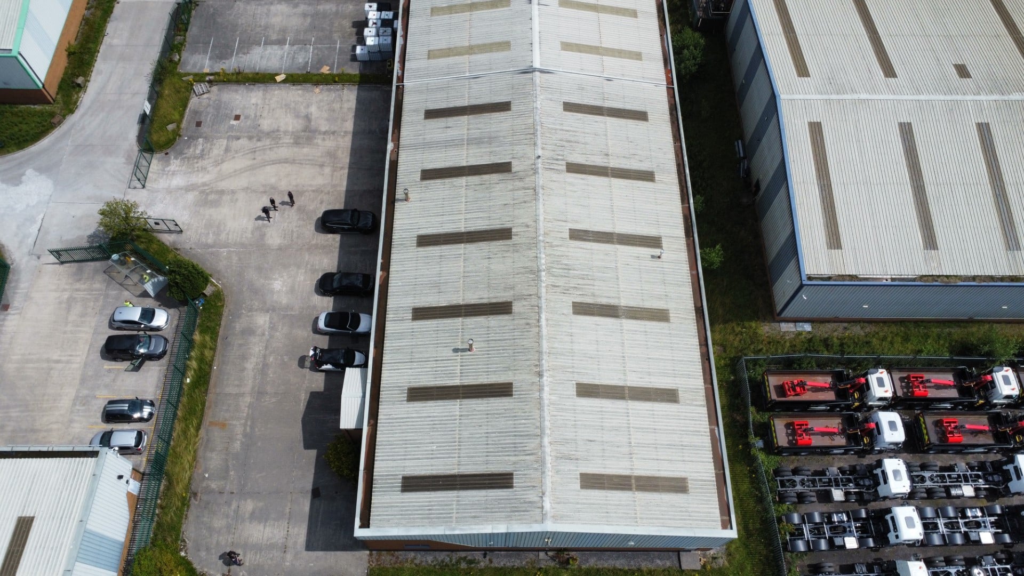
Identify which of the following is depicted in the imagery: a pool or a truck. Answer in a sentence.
Looking from above, you can make out a truck.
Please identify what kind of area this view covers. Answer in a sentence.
The area seen from above is an industrial area.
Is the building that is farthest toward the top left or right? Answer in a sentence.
The building that is farthest toward the top appears in the left half of the scene.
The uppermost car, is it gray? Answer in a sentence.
No, from above the uppermost car looks black.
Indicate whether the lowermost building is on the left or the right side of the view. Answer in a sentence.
You can find the lowermost building on the left side of the picture.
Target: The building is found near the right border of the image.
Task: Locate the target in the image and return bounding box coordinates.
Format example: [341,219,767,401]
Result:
[727,0,1024,319]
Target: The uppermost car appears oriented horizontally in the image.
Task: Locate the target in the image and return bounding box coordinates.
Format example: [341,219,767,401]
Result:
[320,207,379,235]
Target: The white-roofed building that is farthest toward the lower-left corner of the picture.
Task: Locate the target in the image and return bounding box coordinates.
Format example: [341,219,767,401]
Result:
[0,442,142,576]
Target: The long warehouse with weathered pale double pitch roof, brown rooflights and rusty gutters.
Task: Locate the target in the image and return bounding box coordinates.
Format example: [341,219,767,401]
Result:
[340,0,737,552]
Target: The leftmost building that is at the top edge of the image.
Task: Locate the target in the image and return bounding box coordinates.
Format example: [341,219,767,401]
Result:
[0,0,87,104]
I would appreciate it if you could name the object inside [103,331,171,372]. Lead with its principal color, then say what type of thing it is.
black car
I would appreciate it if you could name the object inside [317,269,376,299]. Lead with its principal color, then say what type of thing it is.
black car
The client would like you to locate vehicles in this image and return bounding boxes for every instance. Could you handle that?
[918,405,1024,451]
[314,308,373,338]
[774,454,915,504]
[320,207,379,235]
[110,304,171,334]
[308,344,370,374]
[763,369,897,416]
[317,269,376,299]
[103,331,171,372]
[918,499,1024,547]
[772,406,910,455]
[906,455,1024,501]
[784,500,929,553]
[89,426,154,457]
[102,396,159,426]
[888,364,1024,412]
